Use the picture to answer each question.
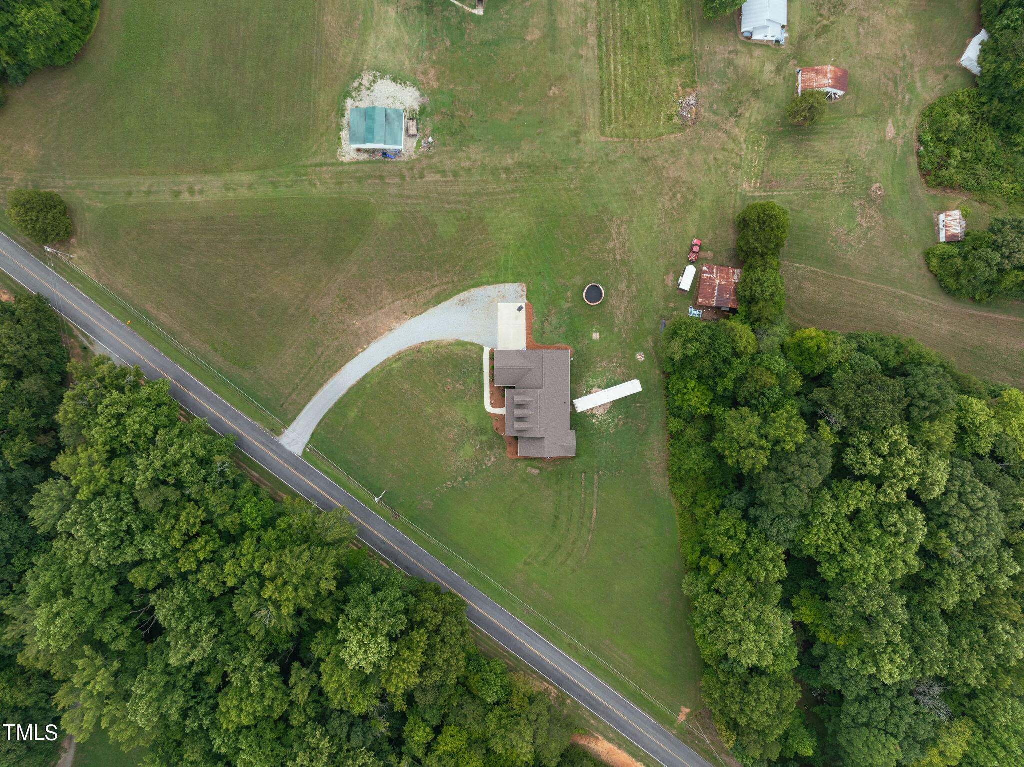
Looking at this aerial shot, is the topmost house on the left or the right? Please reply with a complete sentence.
The topmost house is on the right side of the image.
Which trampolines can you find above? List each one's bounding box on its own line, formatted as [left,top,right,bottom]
[583,284,604,304]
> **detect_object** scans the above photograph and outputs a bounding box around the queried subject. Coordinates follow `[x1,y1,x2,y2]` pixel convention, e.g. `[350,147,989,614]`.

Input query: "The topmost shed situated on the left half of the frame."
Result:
[350,105,406,150]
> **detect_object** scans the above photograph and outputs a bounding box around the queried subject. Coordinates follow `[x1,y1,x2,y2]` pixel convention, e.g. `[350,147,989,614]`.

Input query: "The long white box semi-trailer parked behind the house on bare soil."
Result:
[571,380,642,413]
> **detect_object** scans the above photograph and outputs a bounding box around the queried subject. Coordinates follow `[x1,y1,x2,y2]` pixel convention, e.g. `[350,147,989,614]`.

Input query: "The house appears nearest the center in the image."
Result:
[494,349,576,458]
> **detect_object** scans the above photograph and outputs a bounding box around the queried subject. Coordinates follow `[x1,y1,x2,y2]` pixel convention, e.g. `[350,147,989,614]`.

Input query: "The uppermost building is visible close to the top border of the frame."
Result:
[740,0,788,45]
